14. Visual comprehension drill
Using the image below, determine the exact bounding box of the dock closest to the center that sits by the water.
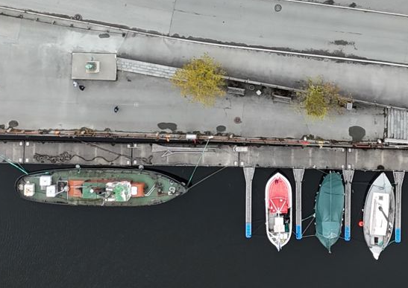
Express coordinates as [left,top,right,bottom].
[133,143,239,169]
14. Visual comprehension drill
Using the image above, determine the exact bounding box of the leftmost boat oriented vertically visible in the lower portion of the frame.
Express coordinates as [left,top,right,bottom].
[265,171,291,252]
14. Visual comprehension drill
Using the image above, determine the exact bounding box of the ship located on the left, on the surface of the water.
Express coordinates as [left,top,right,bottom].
[14,164,188,210]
